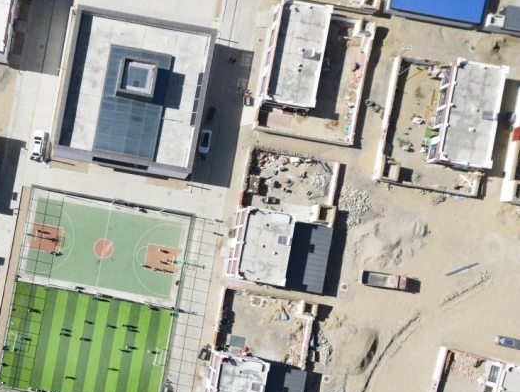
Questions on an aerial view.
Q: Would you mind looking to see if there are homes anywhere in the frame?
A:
Yes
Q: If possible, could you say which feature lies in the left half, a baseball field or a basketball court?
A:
basketball court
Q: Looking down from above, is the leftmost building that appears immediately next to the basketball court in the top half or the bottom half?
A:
top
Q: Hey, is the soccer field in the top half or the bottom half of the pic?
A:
bottom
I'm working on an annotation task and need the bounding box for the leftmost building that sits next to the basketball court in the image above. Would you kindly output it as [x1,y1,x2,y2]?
[54,5,217,182]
